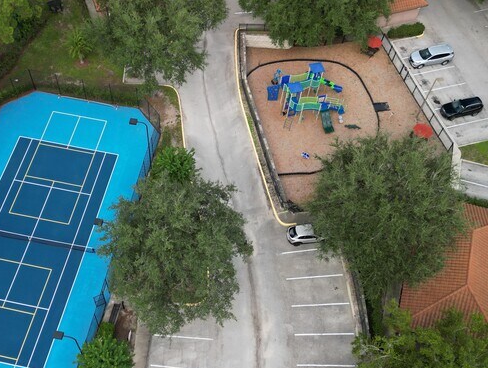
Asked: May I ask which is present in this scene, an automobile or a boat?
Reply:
automobile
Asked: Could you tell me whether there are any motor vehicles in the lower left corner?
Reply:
No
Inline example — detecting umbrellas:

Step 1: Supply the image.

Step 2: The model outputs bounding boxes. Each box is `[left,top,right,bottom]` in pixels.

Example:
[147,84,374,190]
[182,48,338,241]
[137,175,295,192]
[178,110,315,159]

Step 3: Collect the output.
[412,126,432,141]
[364,39,381,60]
